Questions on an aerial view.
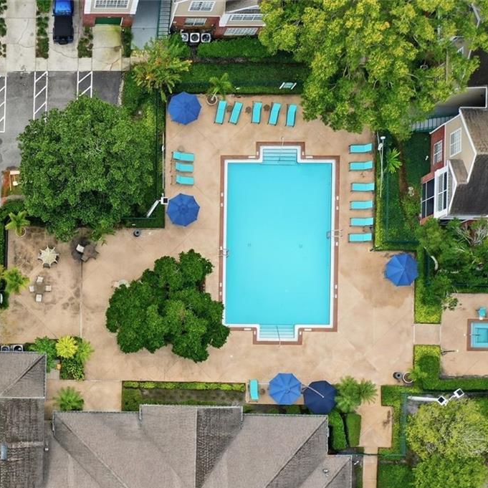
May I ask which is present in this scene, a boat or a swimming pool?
swimming pool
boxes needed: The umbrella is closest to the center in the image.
[166,194,199,226]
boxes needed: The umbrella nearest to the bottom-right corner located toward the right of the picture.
[302,381,336,413]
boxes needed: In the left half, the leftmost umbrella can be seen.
[38,245,58,266]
